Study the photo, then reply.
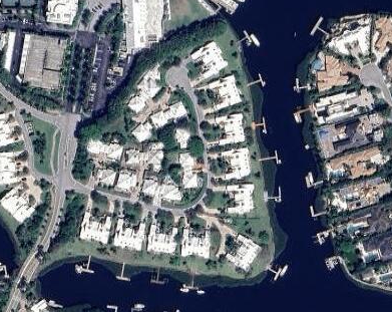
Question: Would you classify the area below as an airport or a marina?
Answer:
marina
